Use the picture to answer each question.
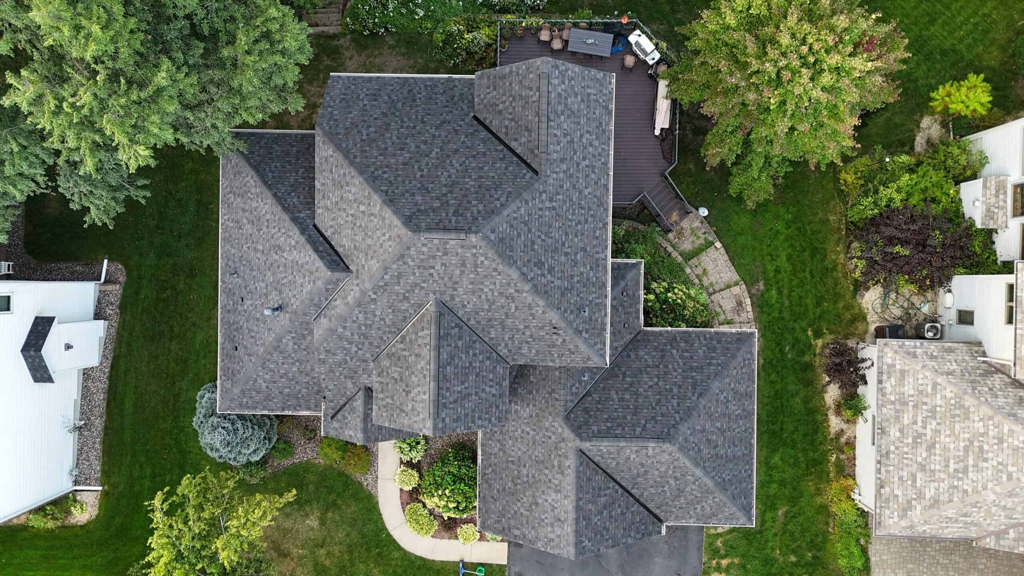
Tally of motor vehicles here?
zero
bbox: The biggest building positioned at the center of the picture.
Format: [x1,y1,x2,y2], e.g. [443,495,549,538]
[216,55,758,561]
